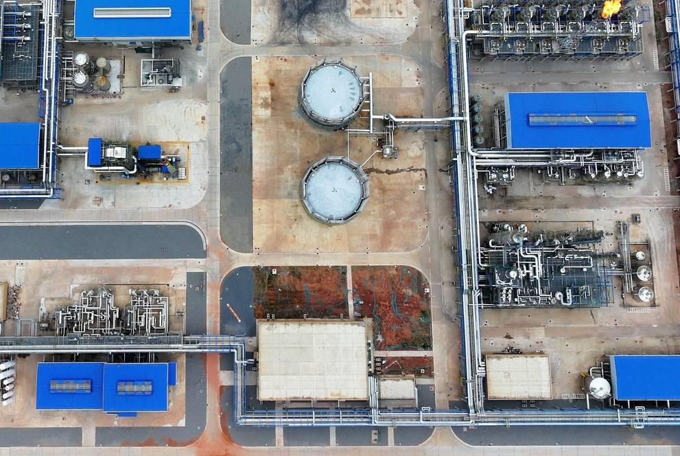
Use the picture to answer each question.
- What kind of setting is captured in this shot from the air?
industrial area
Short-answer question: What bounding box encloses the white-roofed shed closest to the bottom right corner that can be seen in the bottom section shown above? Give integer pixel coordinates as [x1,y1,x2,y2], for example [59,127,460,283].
[481,352,552,399]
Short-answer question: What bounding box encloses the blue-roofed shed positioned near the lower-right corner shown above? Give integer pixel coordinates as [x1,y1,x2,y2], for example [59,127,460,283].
[603,352,680,401]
